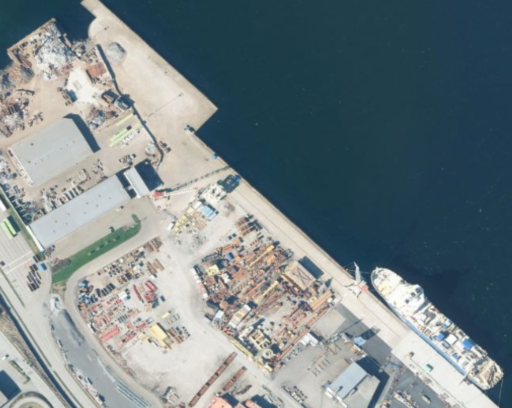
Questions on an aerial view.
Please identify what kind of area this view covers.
port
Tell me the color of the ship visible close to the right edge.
white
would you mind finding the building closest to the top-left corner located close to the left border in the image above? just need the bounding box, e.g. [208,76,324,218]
[10,119,93,187]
